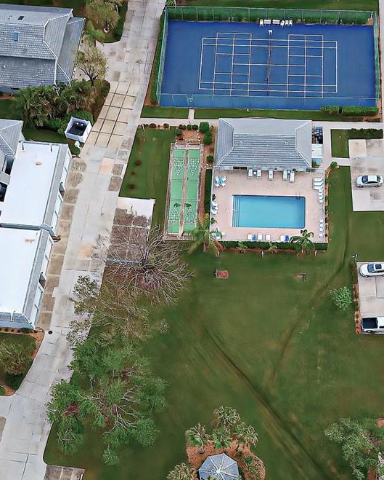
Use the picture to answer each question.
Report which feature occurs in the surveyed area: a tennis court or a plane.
tennis court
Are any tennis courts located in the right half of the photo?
Yes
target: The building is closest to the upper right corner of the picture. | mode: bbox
[215,118,312,174]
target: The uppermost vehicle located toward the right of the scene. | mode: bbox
[356,174,384,188]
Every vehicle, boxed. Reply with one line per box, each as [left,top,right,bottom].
[364,317,384,332]
[356,174,384,188]
[359,260,384,276]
